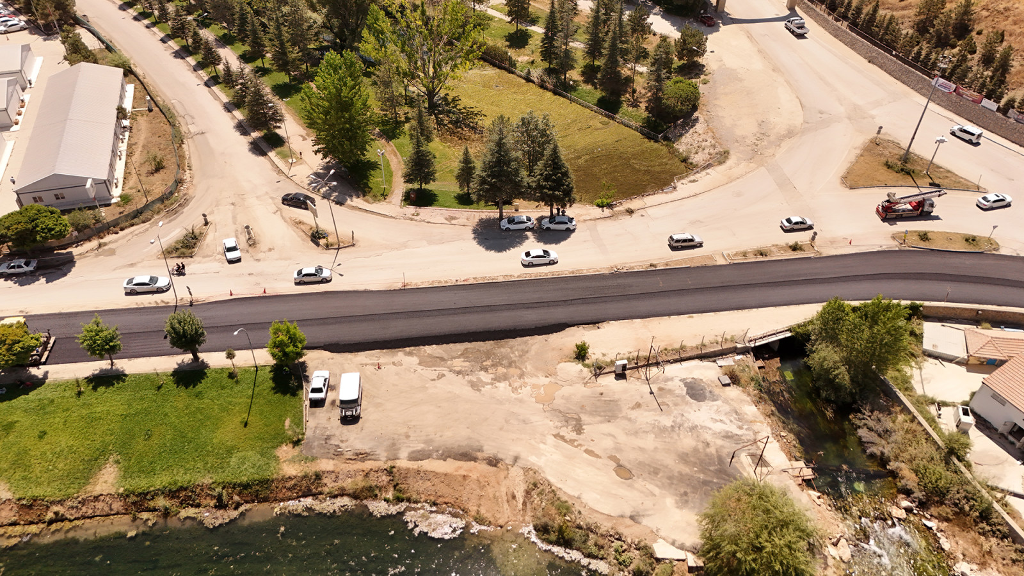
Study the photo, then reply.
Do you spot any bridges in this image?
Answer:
Yes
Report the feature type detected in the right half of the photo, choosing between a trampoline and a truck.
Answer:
truck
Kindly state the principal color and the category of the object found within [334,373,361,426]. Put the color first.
white vehicle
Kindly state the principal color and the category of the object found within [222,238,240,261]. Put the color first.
white car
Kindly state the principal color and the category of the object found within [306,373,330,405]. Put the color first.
white car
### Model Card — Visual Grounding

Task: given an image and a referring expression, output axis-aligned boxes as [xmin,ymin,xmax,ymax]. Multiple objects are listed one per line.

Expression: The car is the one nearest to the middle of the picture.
[519,248,560,266]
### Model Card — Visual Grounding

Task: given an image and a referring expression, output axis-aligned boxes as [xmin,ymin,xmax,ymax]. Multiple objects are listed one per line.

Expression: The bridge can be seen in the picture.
[738,303,825,357]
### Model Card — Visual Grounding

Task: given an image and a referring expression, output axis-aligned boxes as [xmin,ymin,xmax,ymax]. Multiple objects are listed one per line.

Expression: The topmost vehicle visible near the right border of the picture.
[949,123,988,142]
